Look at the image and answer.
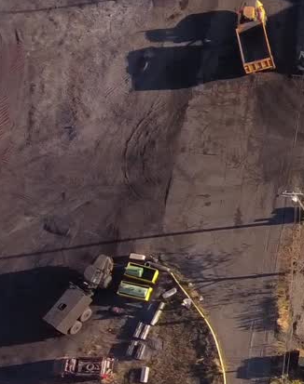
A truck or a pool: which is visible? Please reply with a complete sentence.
Visible in the photo is a truck.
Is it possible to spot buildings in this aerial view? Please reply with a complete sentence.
No, the frame has no building in it.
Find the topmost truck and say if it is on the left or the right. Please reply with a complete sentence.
The topmost truck is on the right side of the image.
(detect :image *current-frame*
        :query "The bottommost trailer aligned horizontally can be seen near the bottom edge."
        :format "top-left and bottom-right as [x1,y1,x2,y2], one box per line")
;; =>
[58,355,118,383]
